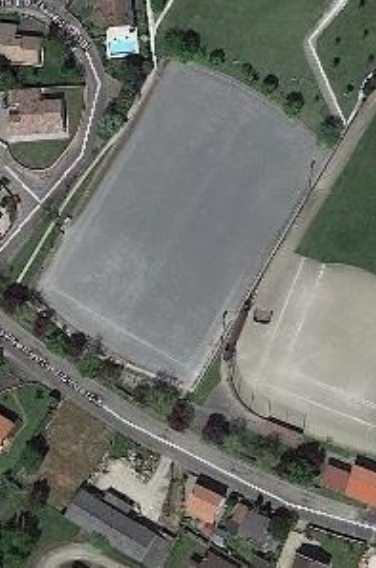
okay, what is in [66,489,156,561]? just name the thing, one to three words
barn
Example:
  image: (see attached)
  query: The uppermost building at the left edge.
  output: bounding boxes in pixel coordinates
[0,23,44,65]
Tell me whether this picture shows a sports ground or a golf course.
sports ground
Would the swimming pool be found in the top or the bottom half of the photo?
top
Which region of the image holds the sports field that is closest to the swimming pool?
center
